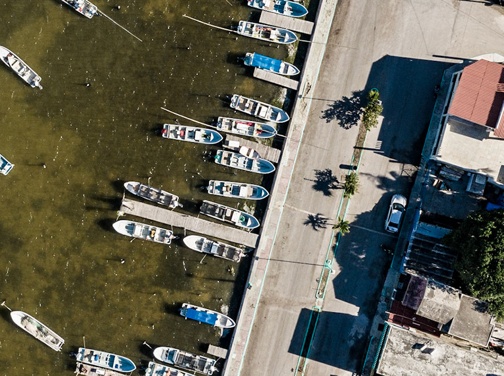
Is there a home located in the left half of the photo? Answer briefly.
No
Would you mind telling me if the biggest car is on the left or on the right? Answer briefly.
right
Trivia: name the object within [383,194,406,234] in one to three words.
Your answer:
car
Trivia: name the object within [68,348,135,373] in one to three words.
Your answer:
boat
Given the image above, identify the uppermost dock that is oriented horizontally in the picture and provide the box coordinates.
[259,10,315,35]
